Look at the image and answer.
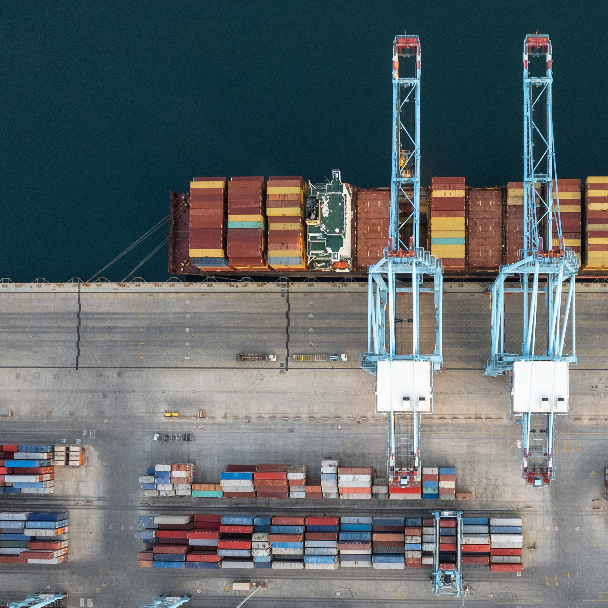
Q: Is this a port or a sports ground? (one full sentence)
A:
The area seen from above is a port.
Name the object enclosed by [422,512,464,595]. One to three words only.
crane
